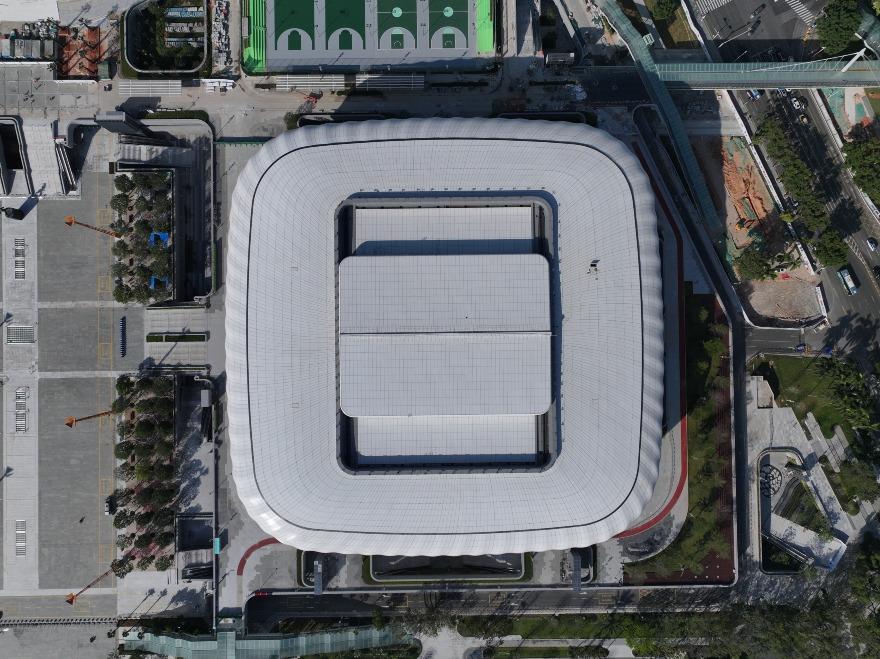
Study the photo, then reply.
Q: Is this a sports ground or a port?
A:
sports ground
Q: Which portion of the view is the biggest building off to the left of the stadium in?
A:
bottom left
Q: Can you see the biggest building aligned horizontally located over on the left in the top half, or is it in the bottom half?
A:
top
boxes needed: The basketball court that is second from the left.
[326,0,365,50]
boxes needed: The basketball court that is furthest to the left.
[274,0,314,50]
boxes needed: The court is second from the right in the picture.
[377,0,417,50]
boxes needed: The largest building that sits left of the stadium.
[176,515,215,581]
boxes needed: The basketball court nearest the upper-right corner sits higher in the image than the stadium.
[429,0,468,50]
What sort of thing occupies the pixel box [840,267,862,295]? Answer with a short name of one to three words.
bus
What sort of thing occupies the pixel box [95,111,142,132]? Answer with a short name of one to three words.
building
